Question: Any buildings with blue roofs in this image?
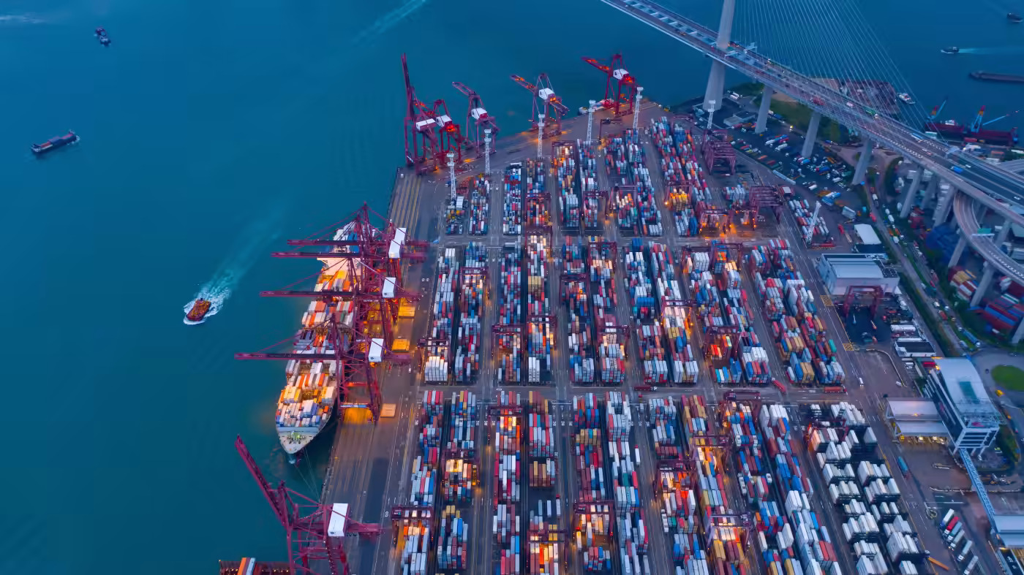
Yes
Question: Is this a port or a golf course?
port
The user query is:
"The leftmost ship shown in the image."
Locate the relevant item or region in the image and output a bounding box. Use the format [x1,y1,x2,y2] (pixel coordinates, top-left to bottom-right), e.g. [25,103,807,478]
[30,127,81,151]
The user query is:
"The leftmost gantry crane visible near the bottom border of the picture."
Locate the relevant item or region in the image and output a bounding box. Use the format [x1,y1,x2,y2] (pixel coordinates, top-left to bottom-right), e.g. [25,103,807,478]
[233,437,377,575]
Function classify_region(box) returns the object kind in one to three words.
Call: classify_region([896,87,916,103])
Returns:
vessel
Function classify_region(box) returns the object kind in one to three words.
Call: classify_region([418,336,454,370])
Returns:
container crane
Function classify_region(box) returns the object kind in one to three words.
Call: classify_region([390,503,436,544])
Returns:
container crane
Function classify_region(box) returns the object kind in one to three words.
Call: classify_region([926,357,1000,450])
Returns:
building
